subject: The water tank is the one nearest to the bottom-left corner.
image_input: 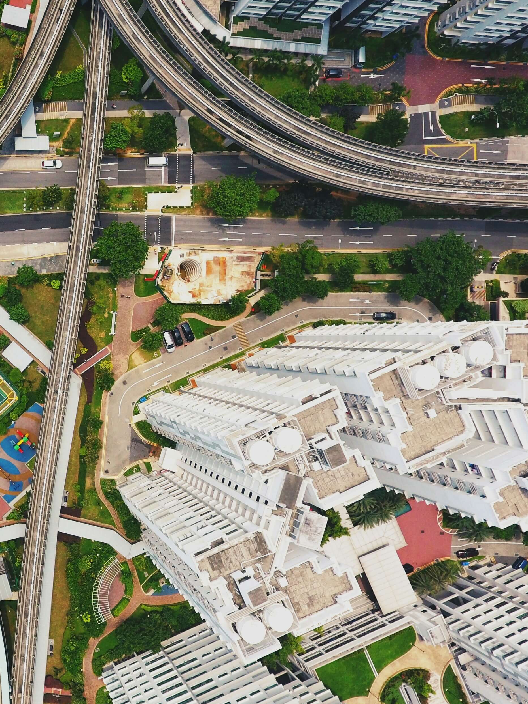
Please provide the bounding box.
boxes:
[225,609,266,644]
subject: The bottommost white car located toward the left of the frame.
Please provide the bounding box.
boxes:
[163,330,176,351]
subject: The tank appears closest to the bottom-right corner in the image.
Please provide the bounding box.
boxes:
[252,592,293,632]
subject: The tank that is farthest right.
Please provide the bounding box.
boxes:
[444,338,494,367]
